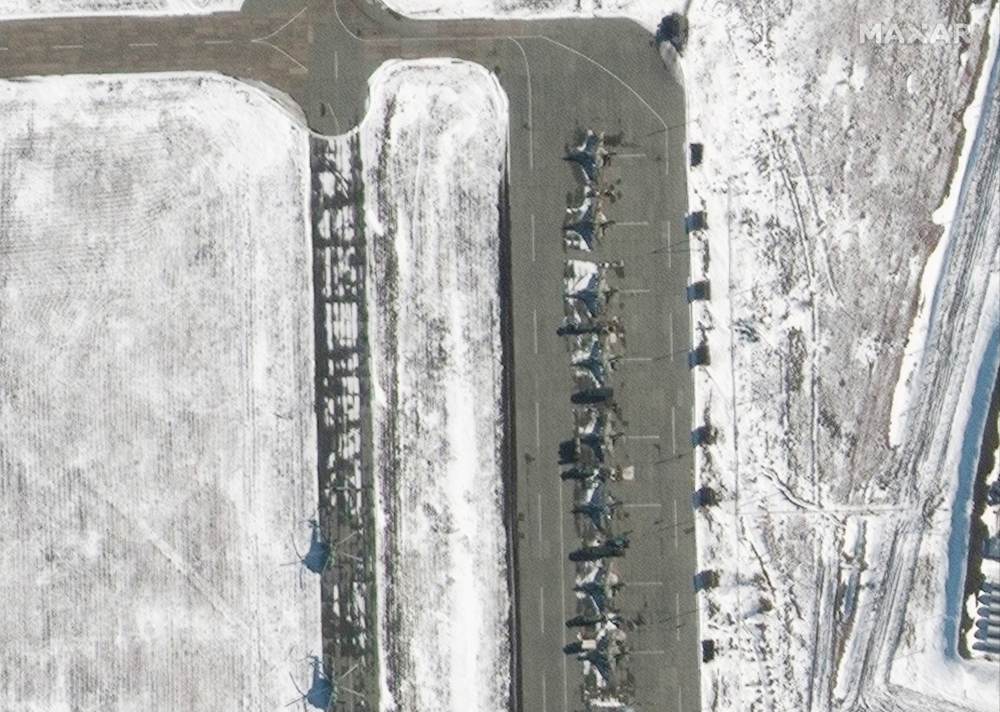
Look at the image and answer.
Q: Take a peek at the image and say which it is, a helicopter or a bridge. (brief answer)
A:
helicopter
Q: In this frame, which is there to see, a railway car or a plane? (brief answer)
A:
plane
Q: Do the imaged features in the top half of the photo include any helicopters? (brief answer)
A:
No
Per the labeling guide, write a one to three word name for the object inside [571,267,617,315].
airplane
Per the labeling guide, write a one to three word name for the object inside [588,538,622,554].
vehicle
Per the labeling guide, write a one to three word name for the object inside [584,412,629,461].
airplane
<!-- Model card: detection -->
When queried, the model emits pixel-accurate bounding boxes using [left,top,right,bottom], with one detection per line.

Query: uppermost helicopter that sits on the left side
[301,514,356,581]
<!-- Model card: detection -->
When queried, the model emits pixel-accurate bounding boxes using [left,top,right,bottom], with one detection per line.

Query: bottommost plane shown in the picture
[585,630,631,680]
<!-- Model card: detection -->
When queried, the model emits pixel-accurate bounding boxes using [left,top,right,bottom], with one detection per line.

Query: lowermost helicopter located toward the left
[302,649,357,712]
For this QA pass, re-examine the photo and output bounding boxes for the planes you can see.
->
[585,630,631,680]
[571,197,617,247]
[584,412,629,461]
[579,334,624,384]
[580,482,626,531]
[571,267,617,315]
[581,561,627,610]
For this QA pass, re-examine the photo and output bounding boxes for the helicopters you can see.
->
[301,514,356,581]
[302,649,357,712]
